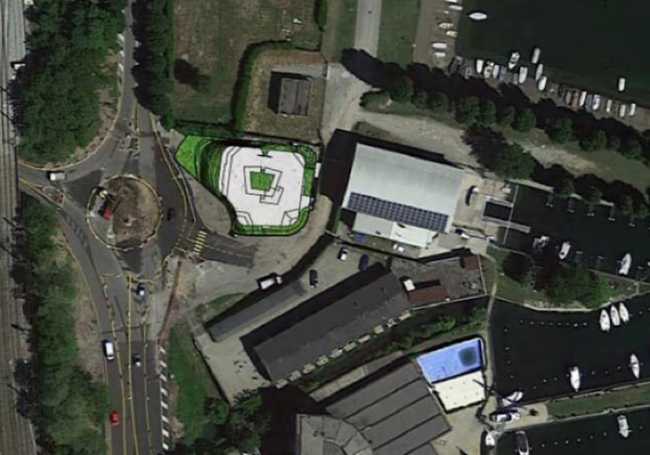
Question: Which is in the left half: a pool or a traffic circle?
traffic circle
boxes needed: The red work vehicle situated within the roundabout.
[102,200,114,220]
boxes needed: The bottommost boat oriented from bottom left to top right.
[503,390,523,407]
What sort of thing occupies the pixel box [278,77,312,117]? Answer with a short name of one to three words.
shed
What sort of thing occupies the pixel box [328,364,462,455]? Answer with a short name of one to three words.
building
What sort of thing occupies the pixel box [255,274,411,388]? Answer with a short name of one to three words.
building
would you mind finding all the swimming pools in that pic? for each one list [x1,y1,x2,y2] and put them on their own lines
[418,338,488,387]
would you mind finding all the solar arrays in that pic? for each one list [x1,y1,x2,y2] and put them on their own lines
[348,190,448,230]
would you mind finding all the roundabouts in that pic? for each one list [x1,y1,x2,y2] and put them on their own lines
[88,175,161,250]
